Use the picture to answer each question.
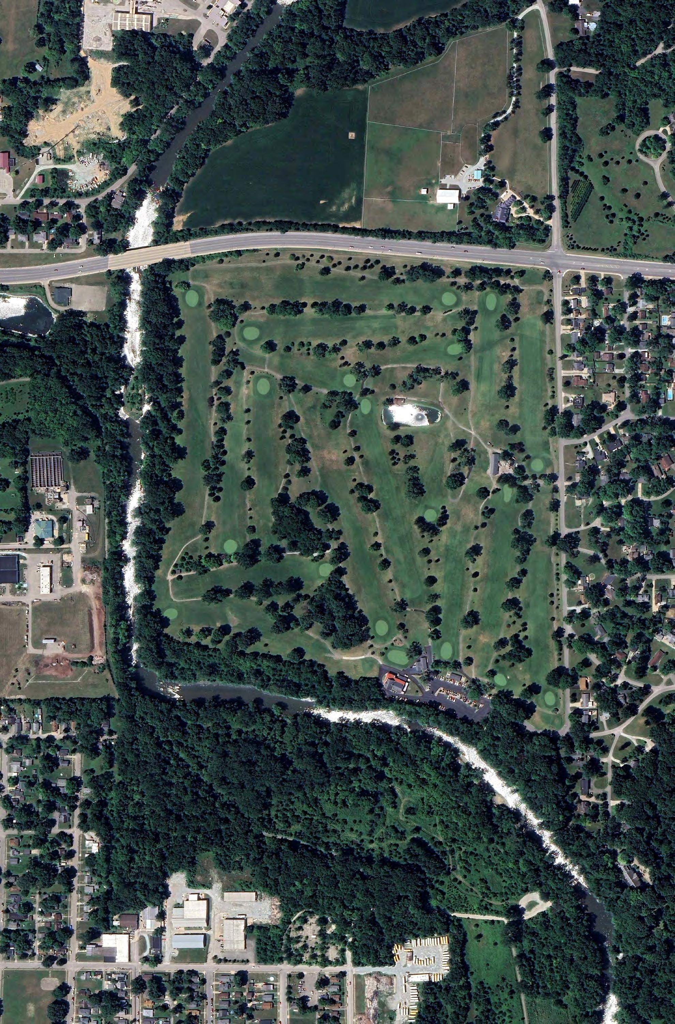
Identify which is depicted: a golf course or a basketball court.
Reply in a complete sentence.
The image shows a golf course.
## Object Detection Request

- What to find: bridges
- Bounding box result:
[107,240,196,270]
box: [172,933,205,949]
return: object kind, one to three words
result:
building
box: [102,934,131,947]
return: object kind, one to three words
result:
building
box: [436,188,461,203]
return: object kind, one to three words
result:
barn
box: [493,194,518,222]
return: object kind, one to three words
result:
house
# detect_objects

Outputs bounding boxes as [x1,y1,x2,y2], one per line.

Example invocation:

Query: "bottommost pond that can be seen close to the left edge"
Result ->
[0,294,54,336]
